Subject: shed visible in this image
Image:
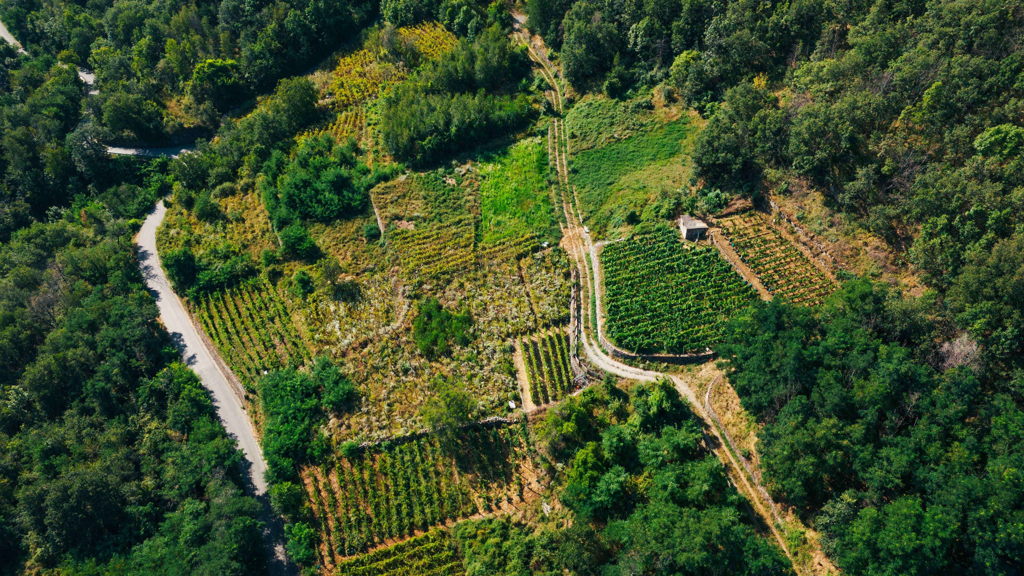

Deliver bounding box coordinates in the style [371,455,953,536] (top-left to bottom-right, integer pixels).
[680,212,712,242]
